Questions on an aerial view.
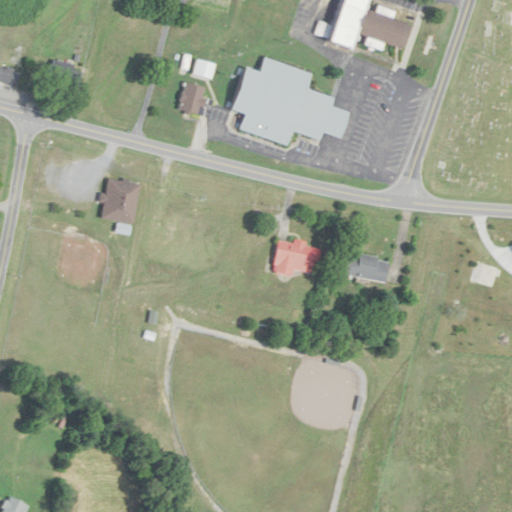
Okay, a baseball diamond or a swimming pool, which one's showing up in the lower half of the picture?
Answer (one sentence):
What appears in the lower half of the picture is a baseball diamond.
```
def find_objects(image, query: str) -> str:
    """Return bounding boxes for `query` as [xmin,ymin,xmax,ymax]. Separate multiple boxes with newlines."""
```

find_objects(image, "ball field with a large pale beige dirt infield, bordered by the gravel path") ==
[172,327,360,512]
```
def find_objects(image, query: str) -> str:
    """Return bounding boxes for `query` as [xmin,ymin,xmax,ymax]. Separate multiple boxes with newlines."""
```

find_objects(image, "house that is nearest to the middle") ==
[273,239,320,276]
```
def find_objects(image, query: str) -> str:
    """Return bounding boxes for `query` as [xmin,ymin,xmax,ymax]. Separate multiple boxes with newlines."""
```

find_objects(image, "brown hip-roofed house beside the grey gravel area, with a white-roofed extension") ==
[98,179,141,236]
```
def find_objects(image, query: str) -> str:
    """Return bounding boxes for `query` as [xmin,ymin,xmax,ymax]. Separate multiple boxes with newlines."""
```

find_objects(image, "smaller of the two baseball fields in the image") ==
[6,231,111,372]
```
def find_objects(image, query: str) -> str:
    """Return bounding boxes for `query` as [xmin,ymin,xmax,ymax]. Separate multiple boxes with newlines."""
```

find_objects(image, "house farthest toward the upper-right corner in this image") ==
[362,5,413,52]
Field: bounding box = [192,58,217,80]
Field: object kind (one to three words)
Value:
building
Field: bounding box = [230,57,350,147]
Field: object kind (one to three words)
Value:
building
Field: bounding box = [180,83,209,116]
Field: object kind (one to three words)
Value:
house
